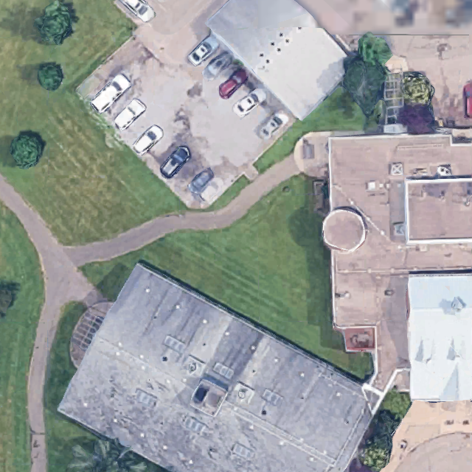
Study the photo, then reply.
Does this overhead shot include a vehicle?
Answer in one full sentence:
Yes, you can see a vehicle in this photo.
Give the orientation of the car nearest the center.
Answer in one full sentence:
What the image shows is the car nearest the center lying diagonally.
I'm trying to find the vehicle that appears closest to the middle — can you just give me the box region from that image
[187,166,215,197]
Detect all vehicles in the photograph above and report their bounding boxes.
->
[257,109,291,140]
[203,50,234,79]
[86,72,131,113]
[131,123,166,157]
[401,0,424,26]
[186,35,220,66]
[216,66,250,98]
[160,143,190,178]
[113,98,148,132]
[187,166,215,197]
[119,0,154,23]
[233,86,267,117]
